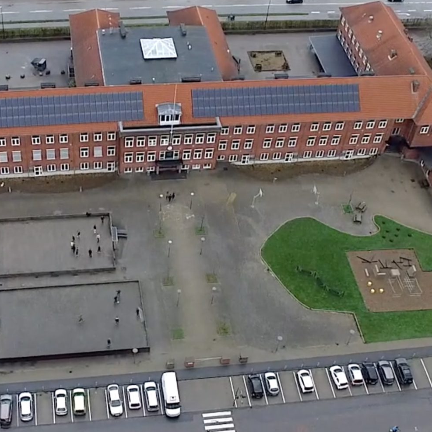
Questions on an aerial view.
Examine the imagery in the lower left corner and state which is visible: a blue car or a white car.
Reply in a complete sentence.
What appears in the lower left corner is a white car.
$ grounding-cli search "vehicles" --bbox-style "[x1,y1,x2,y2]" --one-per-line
[17,392,33,423]
[295,367,316,397]
[141,382,159,412]
[160,369,183,419]
[262,372,280,397]
[70,389,85,417]
[247,374,265,400]
[106,385,124,417]
[125,385,141,411]
[345,362,366,389]
[360,362,380,387]
[392,358,415,386]
[52,389,68,417]
[328,363,350,393]
[375,360,398,388]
